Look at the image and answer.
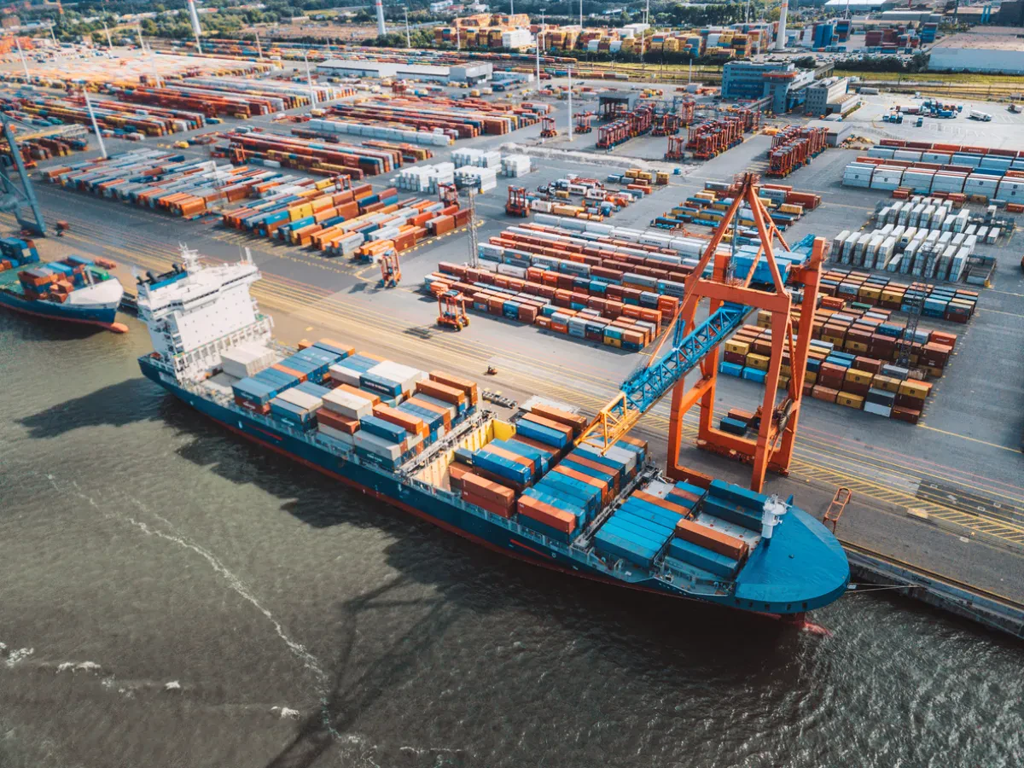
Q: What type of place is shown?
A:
port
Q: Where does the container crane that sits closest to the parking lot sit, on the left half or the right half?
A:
right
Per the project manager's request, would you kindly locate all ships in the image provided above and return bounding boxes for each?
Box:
[123,239,916,634]
[0,246,131,333]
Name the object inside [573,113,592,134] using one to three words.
work vehicle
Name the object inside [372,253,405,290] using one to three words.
work vehicle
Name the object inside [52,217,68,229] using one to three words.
vehicle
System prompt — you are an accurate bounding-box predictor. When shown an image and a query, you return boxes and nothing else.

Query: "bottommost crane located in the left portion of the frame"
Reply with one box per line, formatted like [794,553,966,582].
[0,89,107,247]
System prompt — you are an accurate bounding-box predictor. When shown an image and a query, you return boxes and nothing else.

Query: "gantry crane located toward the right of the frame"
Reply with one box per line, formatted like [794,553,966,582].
[567,164,826,492]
